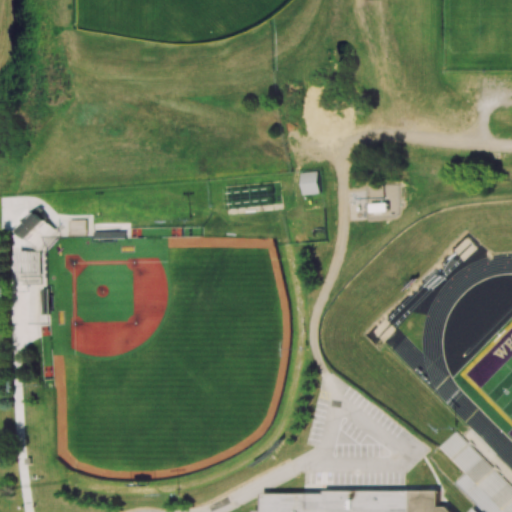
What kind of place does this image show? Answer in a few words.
sports ground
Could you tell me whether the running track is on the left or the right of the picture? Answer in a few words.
right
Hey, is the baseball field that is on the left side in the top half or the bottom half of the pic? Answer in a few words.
bottom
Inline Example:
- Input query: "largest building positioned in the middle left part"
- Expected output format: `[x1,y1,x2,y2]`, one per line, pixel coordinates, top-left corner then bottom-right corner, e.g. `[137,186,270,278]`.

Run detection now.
[14,206,60,245]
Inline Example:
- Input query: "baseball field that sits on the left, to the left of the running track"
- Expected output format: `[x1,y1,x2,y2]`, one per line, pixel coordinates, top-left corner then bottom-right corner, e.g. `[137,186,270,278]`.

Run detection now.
[48,238,290,480]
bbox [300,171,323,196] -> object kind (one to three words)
building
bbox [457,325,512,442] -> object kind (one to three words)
sports field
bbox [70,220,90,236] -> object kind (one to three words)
shed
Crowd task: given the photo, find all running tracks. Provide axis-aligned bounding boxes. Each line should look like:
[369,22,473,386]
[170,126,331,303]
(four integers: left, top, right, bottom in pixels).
[395,253,512,472]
